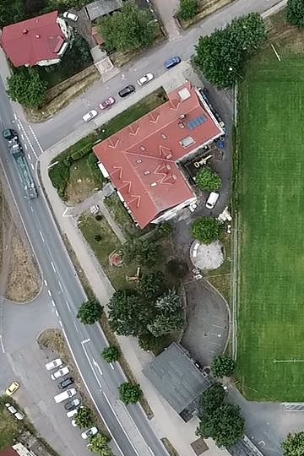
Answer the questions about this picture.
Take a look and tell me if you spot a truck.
Yes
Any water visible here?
No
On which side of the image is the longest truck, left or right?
left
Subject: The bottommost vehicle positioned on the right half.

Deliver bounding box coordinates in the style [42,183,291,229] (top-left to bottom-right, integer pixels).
[206,191,220,209]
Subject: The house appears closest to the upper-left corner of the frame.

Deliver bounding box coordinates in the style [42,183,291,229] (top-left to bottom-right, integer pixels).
[1,11,76,68]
